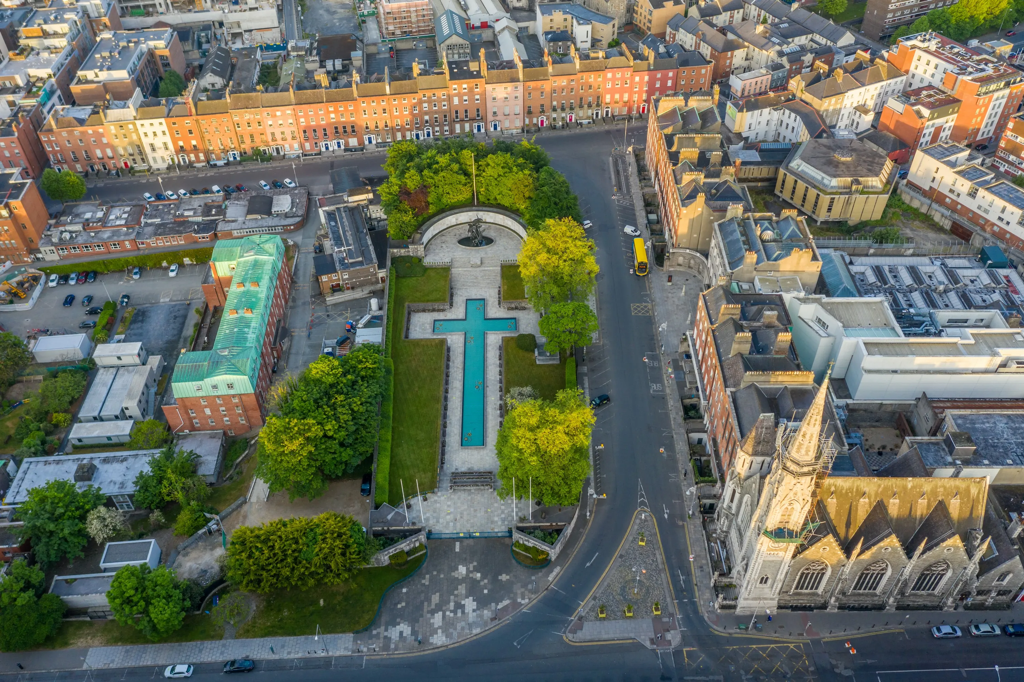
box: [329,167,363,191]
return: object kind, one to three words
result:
shed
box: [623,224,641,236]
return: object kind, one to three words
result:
vehicle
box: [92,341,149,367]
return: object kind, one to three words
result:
building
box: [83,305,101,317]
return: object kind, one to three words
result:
vehicle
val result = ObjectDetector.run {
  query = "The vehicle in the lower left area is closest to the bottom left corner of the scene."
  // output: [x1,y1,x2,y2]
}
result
[163,664,194,680]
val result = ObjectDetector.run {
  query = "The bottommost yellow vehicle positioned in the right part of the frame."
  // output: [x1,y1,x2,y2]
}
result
[632,239,649,278]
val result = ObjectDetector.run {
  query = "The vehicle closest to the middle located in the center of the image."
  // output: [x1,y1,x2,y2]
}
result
[590,394,612,408]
